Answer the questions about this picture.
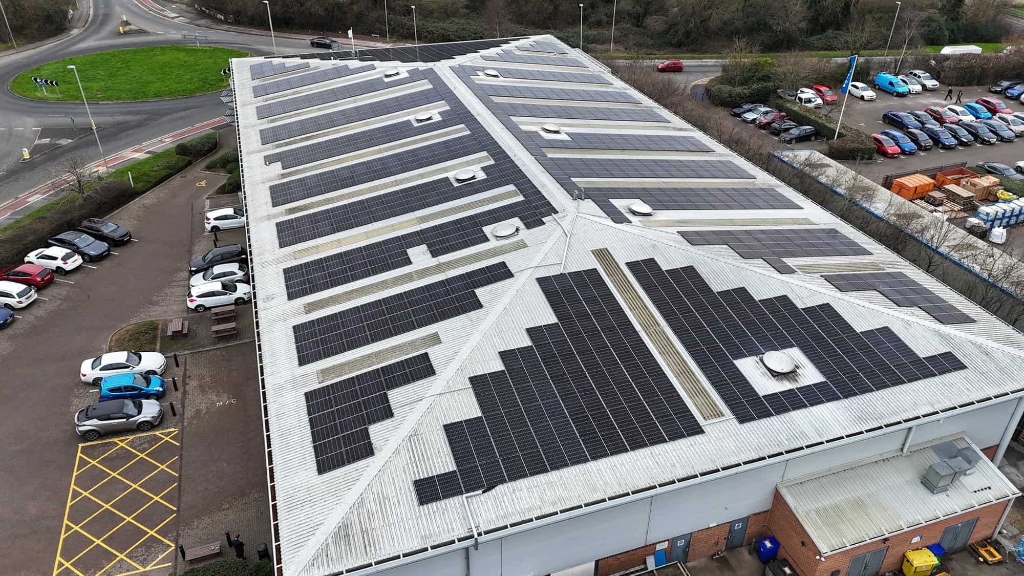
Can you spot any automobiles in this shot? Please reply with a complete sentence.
Yes, there is an automobile in the image.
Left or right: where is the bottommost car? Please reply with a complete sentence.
It is on the left.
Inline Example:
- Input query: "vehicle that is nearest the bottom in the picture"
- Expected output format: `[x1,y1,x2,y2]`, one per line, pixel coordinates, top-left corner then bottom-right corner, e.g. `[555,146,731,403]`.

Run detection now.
[76,398,158,441]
